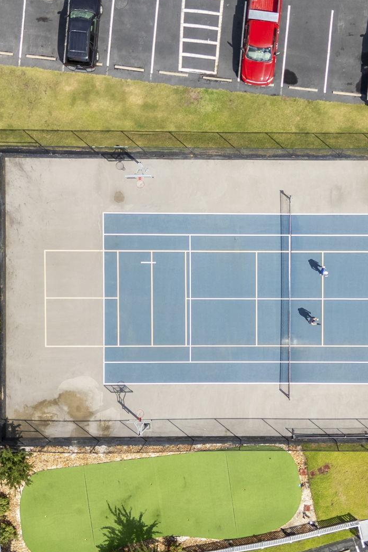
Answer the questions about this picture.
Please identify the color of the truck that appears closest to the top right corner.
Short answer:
red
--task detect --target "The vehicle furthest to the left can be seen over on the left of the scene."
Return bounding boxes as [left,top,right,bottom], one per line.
[63,0,104,72]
